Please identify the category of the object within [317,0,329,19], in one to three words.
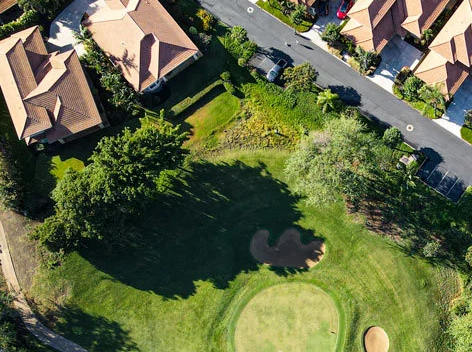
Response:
vehicle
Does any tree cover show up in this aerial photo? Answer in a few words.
Yes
